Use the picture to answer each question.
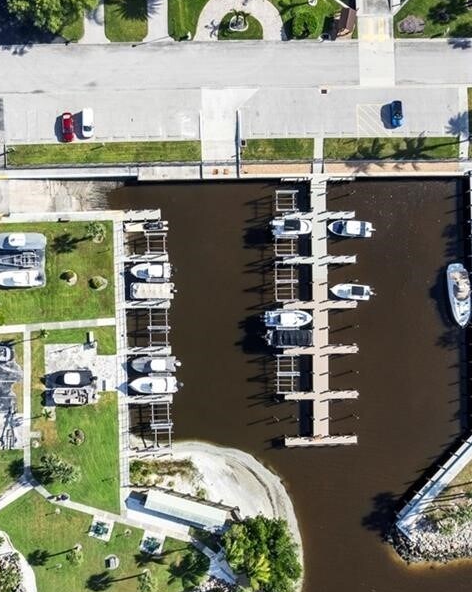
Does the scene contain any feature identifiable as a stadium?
No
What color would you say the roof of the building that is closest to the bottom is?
white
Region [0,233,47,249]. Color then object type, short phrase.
white boat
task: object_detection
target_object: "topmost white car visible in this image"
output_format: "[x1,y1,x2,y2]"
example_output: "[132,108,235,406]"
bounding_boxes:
[80,107,95,137]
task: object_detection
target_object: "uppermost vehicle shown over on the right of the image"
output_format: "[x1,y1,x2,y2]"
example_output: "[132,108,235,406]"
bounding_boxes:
[388,100,404,129]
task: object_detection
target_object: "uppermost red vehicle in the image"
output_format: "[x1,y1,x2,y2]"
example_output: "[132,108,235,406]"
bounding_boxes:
[60,113,75,142]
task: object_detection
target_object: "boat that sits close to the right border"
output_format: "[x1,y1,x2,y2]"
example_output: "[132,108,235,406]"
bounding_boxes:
[448,258,472,328]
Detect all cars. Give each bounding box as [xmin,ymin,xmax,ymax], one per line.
[80,107,95,137]
[388,100,404,129]
[60,113,75,142]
